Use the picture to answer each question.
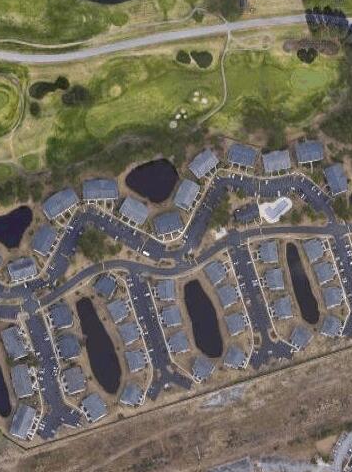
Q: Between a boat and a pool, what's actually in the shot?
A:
pool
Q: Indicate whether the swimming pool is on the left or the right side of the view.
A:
right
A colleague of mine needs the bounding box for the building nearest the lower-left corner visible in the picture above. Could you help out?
[8,404,39,442]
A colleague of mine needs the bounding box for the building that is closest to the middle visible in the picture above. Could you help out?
[154,211,184,241]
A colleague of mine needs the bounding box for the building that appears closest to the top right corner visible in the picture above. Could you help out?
[295,141,325,175]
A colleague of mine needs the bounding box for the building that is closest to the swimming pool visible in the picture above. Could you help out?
[235,204,260,223]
